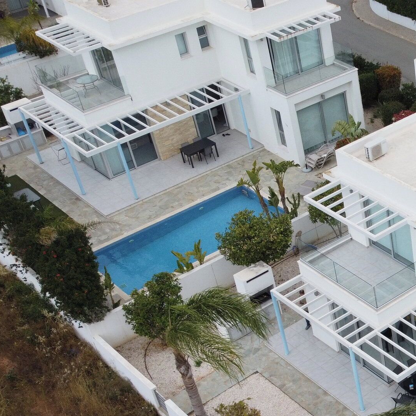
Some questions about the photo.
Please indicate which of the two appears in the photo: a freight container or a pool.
pool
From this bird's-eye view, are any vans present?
No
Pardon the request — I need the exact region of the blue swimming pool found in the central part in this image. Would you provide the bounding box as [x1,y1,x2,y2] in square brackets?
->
[100,173,296,290]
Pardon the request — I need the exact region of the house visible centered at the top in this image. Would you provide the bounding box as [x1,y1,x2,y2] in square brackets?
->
[22,0,360,200]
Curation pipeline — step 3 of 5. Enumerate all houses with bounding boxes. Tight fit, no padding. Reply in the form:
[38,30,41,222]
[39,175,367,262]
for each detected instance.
[22,0,360,200]
[273,110,416,413]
